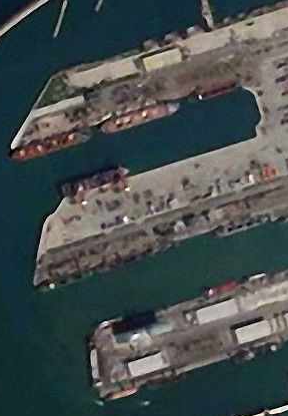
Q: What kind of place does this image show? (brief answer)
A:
port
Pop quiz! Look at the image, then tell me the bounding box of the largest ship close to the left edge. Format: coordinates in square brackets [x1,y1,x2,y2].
[9,134,91,159]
